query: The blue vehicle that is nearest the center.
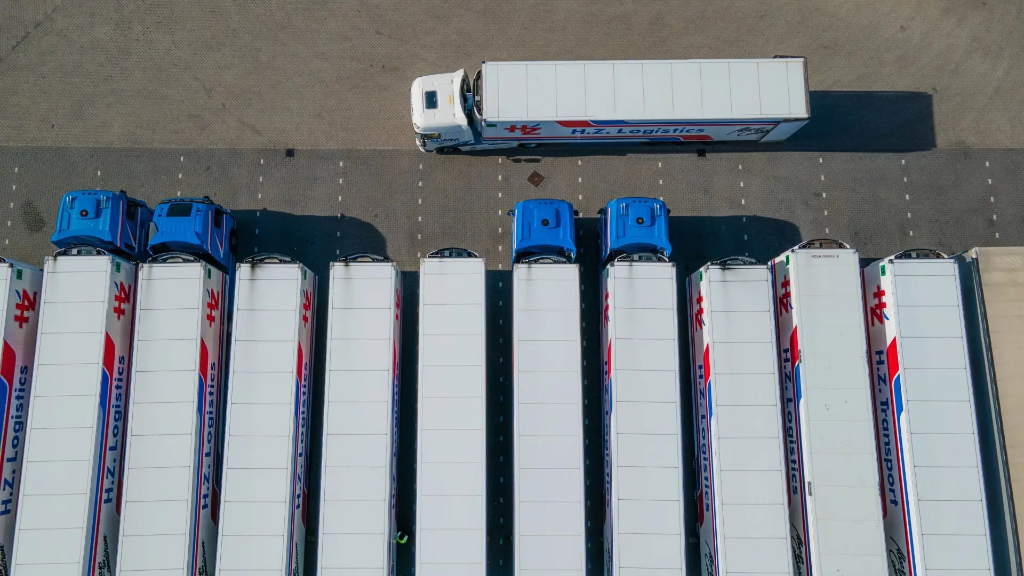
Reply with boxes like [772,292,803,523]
[508,198,581,264]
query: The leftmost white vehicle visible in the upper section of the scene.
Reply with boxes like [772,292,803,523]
[409,71,543,154]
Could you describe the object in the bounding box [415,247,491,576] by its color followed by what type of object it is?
white trailer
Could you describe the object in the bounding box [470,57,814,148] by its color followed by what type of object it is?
white trailer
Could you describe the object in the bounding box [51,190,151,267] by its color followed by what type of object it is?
blue truck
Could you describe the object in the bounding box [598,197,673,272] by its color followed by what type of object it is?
blue truck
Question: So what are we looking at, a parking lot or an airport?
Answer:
parking lot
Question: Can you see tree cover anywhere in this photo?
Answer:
No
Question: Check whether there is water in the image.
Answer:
No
